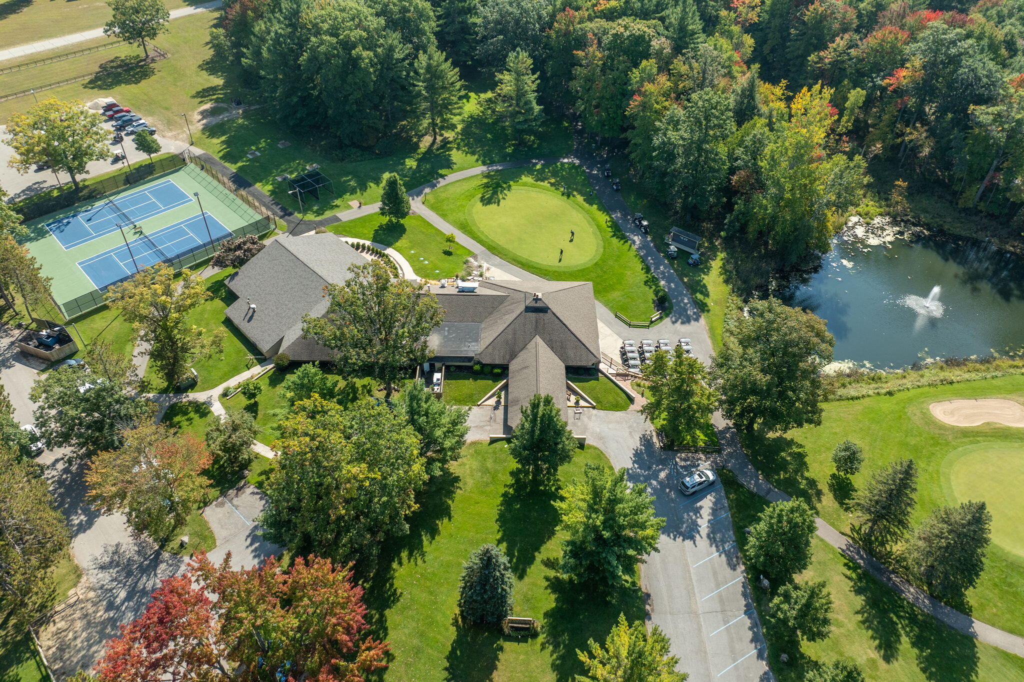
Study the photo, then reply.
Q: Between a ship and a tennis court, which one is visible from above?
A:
tennis court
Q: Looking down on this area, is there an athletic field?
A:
Yes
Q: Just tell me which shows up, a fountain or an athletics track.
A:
fountain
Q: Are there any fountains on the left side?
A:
No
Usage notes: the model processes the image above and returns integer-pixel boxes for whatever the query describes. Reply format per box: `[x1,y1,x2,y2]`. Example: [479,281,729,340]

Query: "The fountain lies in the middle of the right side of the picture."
[878,282,946,321]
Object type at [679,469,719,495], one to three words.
car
